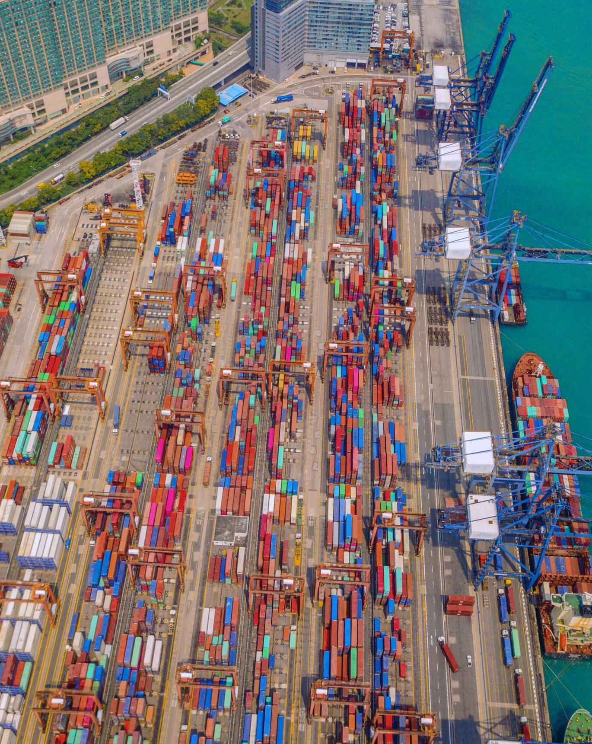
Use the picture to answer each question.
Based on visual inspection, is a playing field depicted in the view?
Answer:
No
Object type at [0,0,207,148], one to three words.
building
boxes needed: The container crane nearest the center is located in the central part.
[267,356,315,404]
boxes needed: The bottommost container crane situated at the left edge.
[29,688,106,739]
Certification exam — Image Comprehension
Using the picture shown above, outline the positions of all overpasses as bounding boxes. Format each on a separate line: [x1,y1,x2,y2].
[0,27,256,213]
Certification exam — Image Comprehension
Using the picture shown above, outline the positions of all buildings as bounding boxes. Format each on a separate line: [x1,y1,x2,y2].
[219,84,248,111]
[0,0,207,148]
[213,515,248,546]
[256,0,377,82]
